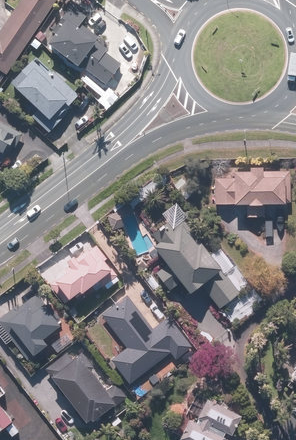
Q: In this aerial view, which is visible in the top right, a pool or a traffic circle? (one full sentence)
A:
Looking in the top right, you will find a traffic circle.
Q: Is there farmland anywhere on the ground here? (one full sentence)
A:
No, the picture contains no farmland.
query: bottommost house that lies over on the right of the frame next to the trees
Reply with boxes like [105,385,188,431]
[180,400,242,440]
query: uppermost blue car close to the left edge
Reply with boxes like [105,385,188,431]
[11,202,26,215]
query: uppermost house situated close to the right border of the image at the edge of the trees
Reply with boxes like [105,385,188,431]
[214,168,292,218]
